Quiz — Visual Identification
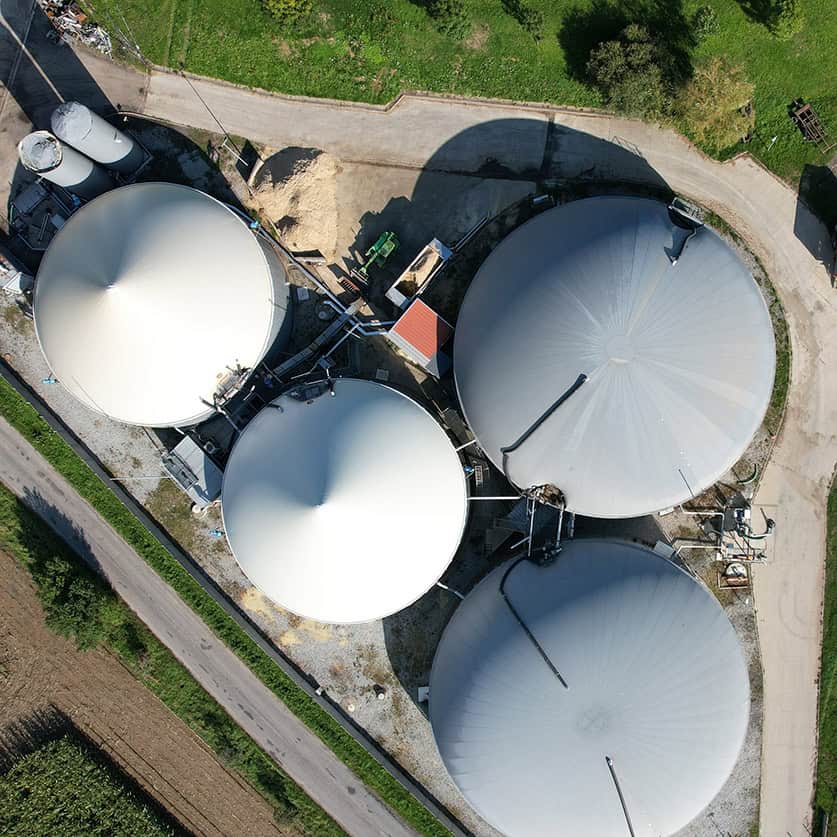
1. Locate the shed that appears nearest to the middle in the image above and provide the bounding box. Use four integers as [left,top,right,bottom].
[381,296,457,374]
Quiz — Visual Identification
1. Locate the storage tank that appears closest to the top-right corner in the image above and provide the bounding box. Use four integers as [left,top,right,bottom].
[454,197,775,517]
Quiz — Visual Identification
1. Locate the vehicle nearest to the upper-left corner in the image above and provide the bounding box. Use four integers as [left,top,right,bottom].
[346,226,396,283]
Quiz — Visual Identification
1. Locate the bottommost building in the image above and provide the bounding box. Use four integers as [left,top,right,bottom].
[170,436,228,513]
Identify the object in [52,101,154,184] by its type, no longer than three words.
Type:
silo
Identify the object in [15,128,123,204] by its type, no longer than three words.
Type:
silo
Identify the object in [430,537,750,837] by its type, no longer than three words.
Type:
storage tank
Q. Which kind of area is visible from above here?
industrial area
